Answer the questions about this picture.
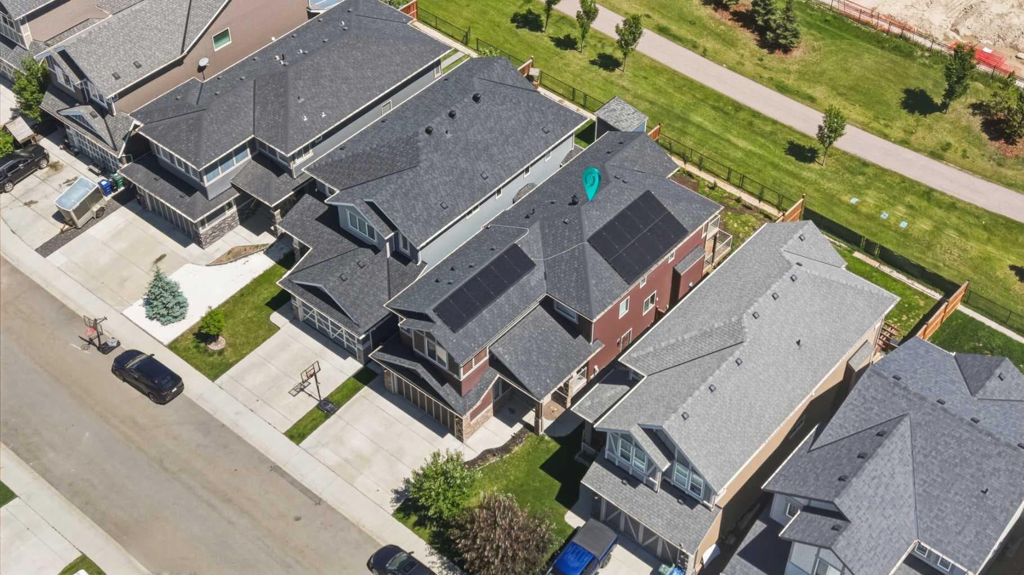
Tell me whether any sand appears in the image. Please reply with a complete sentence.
No, sand can't be seen anywhere here.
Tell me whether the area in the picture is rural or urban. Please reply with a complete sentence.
This place is urban.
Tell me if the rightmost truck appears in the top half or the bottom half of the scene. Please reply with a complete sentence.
The rightmost truck sits in the bottom half of the picture.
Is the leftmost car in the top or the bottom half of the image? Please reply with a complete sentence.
The leftmost car is in the top half of the image.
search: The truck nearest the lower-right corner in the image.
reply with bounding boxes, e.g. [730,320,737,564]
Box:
[536,519,623,575]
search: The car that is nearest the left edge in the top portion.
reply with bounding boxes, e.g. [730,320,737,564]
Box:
[0,143,50,189]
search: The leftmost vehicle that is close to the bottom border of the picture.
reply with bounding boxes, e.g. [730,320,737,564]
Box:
[370,545,435,575]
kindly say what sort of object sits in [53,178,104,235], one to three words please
trailer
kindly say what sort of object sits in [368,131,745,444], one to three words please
house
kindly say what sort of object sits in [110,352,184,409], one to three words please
car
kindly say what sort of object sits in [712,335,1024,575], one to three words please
house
